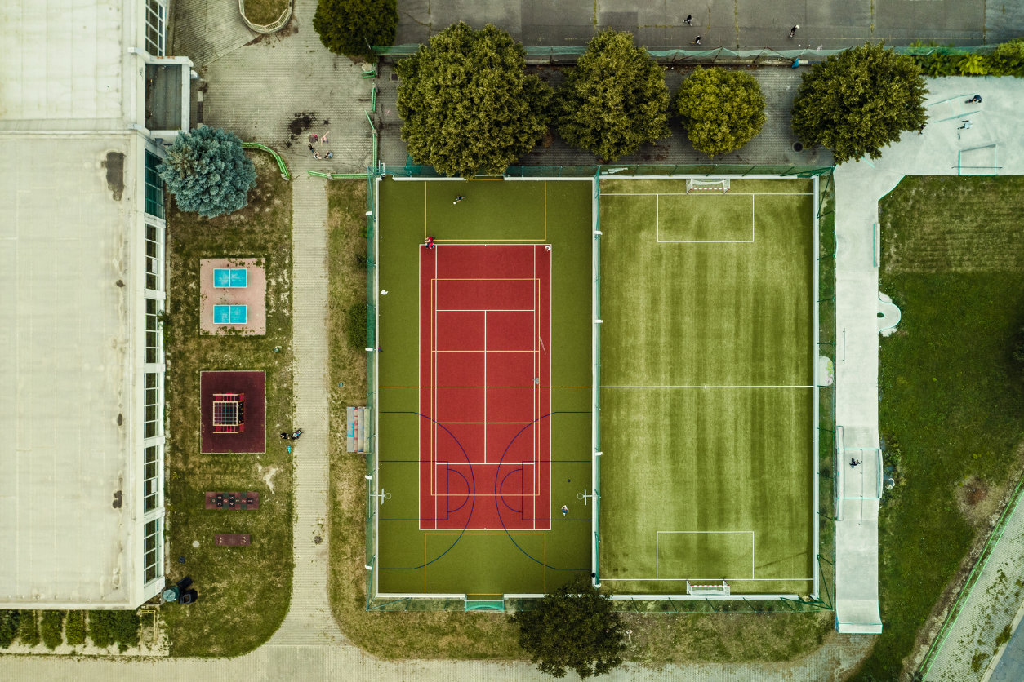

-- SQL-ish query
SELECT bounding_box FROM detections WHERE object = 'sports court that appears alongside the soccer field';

[378,169,594,604]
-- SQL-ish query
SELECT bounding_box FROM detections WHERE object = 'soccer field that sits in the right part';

[594,175,815,597]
